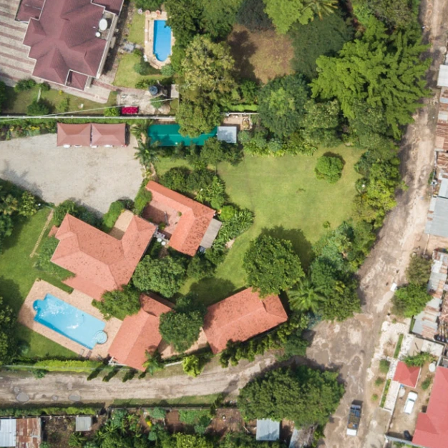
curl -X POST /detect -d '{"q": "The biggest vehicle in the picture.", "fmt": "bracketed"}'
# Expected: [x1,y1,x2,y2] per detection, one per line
[345,400,361,434]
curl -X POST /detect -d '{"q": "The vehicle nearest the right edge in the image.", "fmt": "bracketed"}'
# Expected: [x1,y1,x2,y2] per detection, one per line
[403,390,419,414]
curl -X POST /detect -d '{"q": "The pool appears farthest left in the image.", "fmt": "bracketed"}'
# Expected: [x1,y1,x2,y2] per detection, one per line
[29,292,108,353]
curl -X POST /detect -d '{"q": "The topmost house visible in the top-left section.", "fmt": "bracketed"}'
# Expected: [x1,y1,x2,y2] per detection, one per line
[14,0,127,91]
